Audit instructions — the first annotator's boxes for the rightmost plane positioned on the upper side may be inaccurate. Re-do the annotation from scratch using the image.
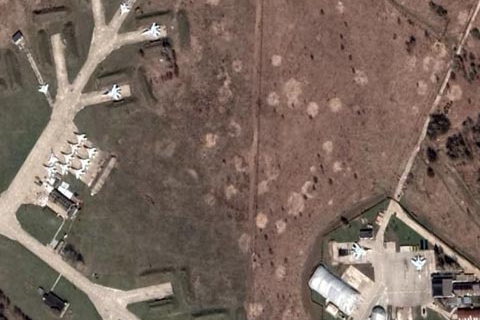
[141,24,162,37]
